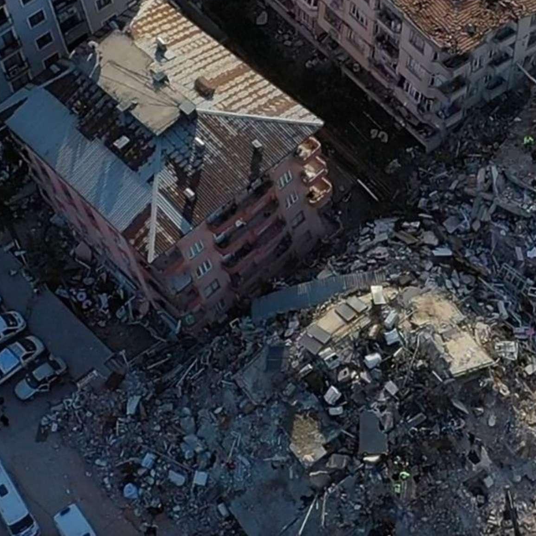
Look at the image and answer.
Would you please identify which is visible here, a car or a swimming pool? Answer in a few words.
car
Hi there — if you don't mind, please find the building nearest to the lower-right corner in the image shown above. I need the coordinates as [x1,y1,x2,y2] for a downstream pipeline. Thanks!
[394,366,458,426]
